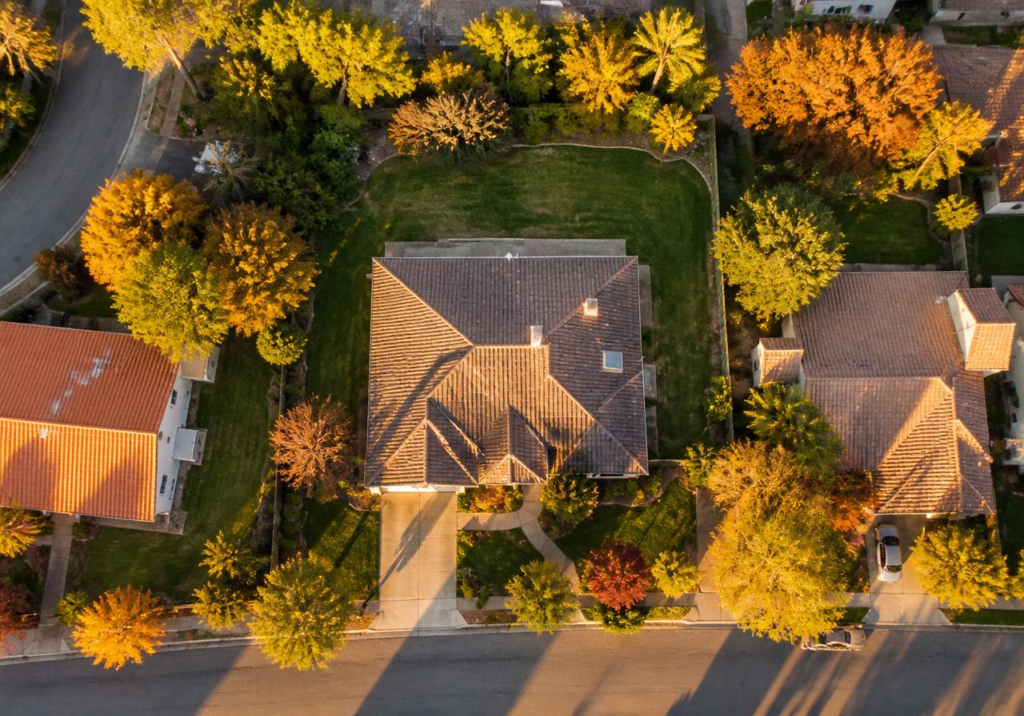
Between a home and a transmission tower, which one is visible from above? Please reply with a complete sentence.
The one in the frame is a home.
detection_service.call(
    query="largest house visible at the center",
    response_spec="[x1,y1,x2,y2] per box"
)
[364,251,651,491]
